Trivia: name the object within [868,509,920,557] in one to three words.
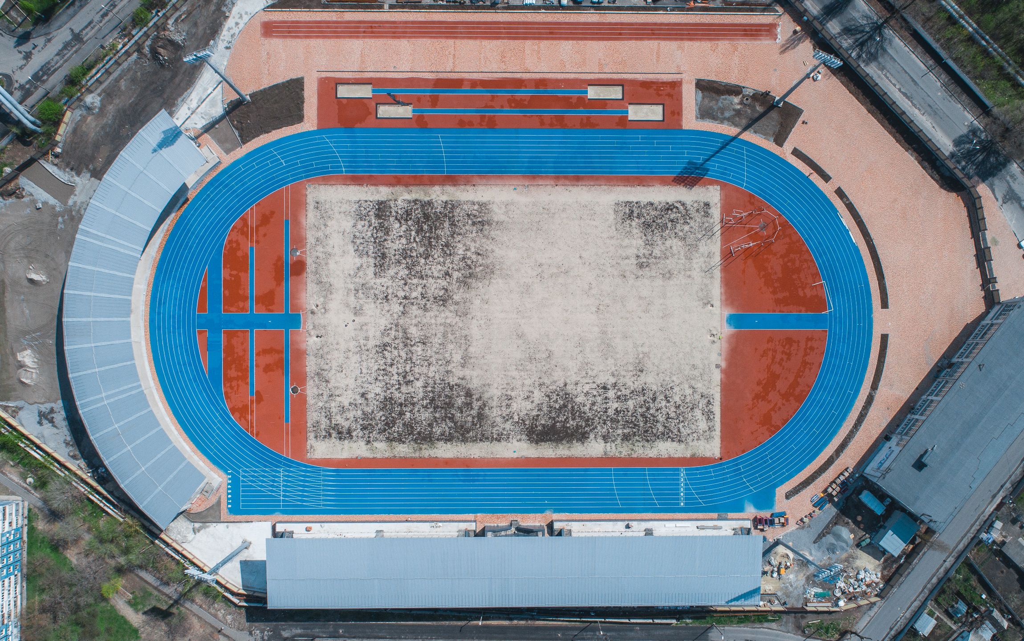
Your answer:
shed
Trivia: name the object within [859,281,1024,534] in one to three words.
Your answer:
building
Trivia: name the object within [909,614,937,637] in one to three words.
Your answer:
shed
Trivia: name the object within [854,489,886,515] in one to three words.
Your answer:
building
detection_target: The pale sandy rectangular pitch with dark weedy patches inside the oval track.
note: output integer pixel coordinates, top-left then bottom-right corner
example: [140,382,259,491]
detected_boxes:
[306,184,721,458]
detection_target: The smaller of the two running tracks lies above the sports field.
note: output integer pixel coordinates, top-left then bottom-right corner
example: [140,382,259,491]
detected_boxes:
[262,20,782,43]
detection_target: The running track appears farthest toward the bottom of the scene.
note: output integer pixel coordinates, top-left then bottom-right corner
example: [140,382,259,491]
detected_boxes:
[150,128,874,514]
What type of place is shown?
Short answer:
sports ground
